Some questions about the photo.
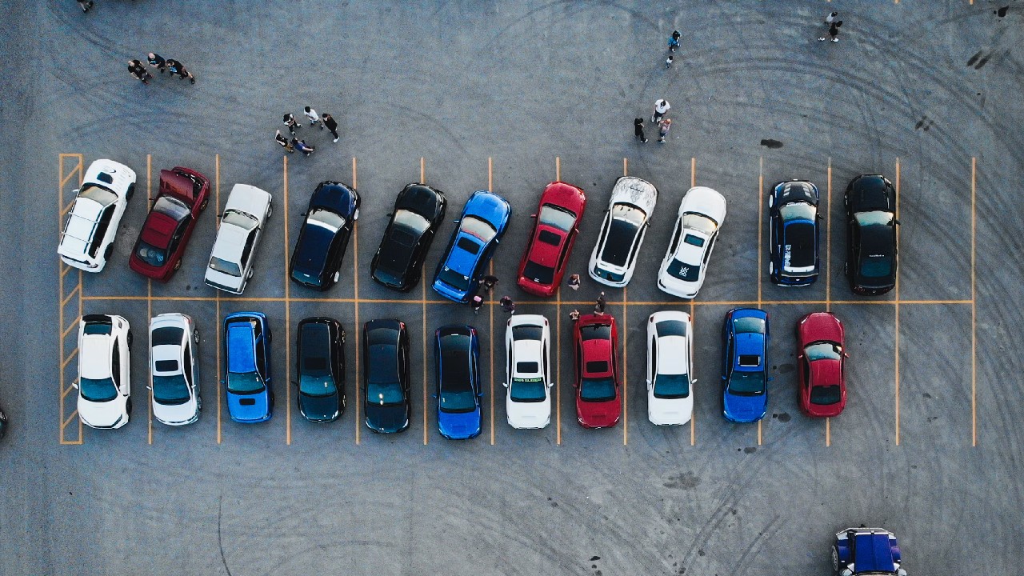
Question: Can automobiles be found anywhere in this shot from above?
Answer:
Yes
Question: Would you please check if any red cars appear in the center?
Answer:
Yes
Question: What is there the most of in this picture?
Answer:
paved ground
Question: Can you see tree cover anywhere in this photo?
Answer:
No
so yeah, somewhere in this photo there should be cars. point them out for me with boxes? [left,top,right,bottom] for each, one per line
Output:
[370,185,441,293]
[501,313,556,431]
[144,312,204,427]
[831,522,905,576]
[643,310,699,427]
[430,324,485,441]
[357,318,413,434]
[569,313,625,430]
[794,311,850,419]
[291,315,347,425]
[72,315,133,430]
[433,190,510,305]
[131,168,210,283]
[517,181,584,297]
[218,312,274,423]
[288,183,360,290]
[767,177,825,291]
[590,177,657,289]
[204,182,274,299]
[58,159,136,274]
[720,307,776,424]
[842,174,903,297]
[657,186,727,300]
